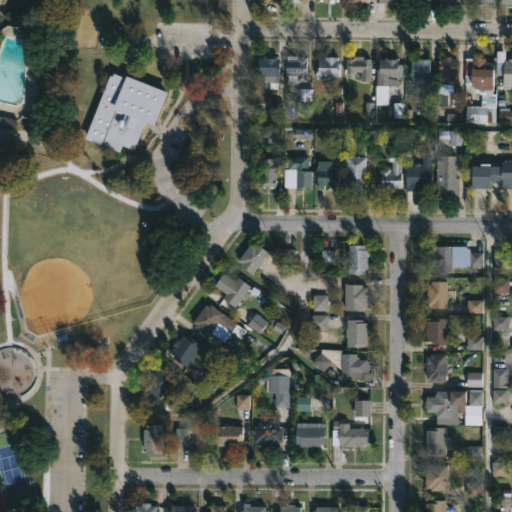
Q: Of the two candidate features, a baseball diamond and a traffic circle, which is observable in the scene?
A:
baseball diamond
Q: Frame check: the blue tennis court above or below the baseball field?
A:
below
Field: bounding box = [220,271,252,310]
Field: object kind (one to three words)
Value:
house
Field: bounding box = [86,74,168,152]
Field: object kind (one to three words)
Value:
building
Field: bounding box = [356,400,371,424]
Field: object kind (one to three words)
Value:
building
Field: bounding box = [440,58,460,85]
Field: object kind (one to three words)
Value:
house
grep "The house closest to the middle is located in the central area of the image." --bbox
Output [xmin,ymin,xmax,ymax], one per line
[240,246,268,276]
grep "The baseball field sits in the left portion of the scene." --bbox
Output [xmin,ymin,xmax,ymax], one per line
[22,258,94,335]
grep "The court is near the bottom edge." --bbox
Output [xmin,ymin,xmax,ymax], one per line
[0,433,34,504]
